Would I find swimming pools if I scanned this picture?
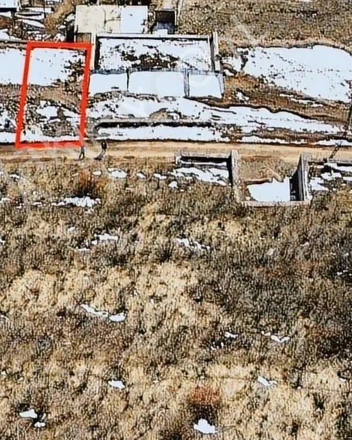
No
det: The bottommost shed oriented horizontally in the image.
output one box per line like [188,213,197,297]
[84,72,225,101]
